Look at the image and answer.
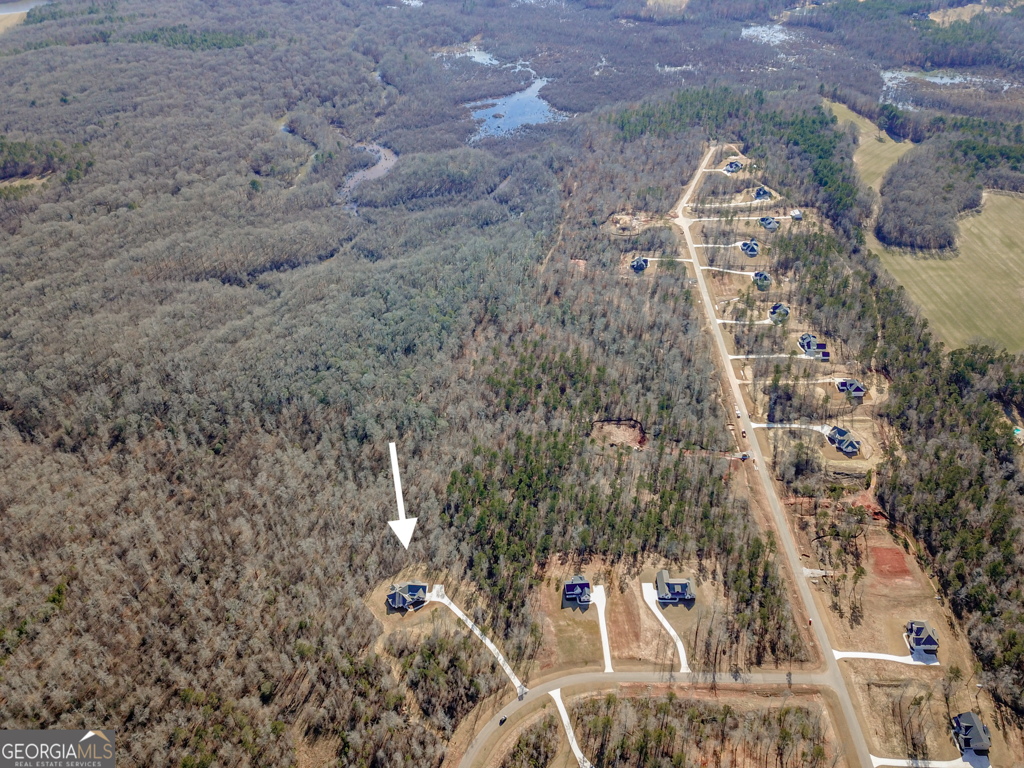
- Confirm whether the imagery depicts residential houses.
Yes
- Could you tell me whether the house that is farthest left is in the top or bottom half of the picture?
bottom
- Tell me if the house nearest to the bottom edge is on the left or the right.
right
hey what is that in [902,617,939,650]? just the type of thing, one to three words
house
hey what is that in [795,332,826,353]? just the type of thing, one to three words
house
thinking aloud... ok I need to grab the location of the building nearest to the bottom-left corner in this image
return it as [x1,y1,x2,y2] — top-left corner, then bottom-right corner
[387,575,428,610]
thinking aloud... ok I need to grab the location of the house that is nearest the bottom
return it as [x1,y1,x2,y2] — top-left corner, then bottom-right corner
[947,699,992,751]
